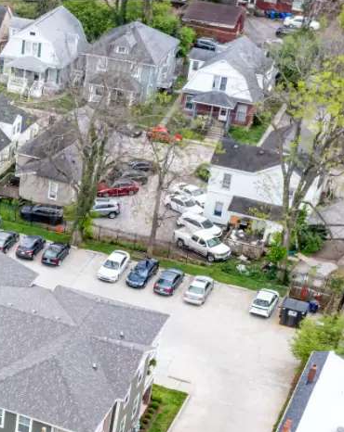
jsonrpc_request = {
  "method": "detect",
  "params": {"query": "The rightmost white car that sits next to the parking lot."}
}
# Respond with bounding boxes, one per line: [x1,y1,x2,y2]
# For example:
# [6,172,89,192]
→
[249,286,278,313]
